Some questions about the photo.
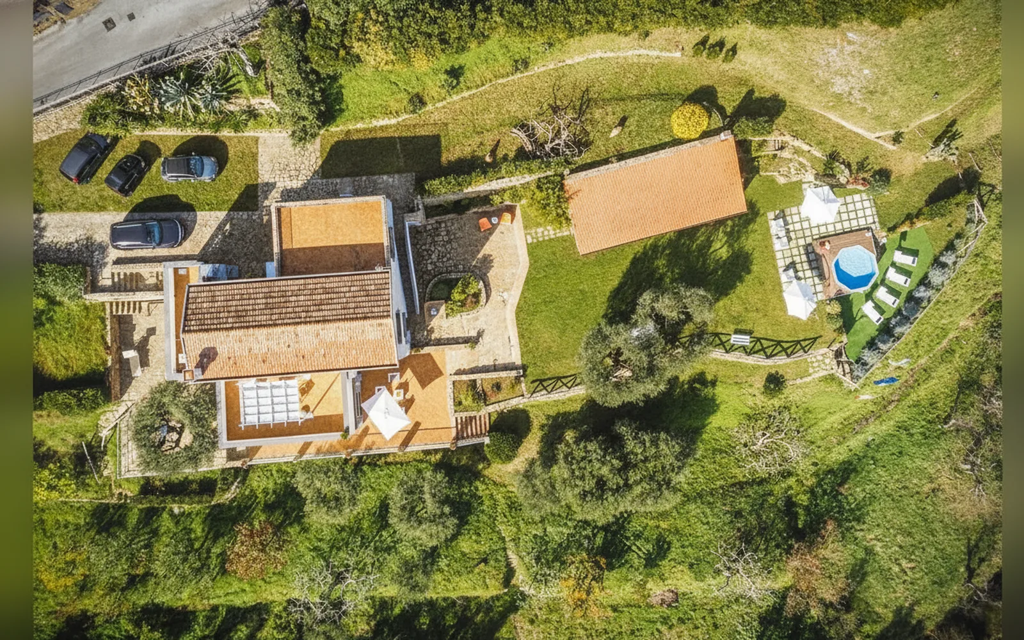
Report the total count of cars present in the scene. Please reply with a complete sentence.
There are 4 cars in the image.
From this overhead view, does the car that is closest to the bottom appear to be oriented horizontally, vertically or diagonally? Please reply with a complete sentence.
The car that is closest to the bottom runs horizontally in the image.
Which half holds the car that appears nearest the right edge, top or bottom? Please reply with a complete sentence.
Seen from above, the car that appears nearest the right edge lies in the top half of the view.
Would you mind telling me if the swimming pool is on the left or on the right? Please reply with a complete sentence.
You can find the swimming pool on the right side of the picture.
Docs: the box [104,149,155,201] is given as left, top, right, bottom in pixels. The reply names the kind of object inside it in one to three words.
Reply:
car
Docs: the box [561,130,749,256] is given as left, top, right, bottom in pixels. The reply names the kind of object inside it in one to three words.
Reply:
shed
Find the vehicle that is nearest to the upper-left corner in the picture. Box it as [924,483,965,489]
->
[57,129,120,192]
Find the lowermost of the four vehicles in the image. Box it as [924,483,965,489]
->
[110,218,187,252]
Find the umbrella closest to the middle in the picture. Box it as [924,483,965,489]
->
[366,390,411,436]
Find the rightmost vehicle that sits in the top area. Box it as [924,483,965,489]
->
[160,152,223,184]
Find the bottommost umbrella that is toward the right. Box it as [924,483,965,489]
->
[777,279,814,318]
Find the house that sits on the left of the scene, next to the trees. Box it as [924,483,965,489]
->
[163,192,411,448]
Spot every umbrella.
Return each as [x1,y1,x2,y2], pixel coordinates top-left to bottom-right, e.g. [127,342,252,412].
[777,279,814,318]
[796,186,837,223]
[366,390,411,436]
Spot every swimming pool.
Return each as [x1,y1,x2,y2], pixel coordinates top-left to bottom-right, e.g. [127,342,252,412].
[832,245,880,296]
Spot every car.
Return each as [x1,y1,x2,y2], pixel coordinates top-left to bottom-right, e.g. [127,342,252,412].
[104,149,155,201]
[110,218,187,252]
[160,152,223,184]
[57,129,120,192]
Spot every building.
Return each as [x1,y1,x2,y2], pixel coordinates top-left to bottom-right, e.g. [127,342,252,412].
[163,192,411,448]
[561,130,749,256]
